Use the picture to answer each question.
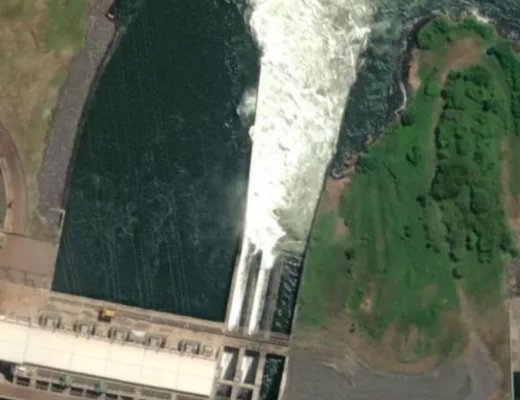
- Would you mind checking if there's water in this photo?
Yes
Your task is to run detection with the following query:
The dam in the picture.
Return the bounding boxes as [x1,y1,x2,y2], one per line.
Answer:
[0,253,292,400]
